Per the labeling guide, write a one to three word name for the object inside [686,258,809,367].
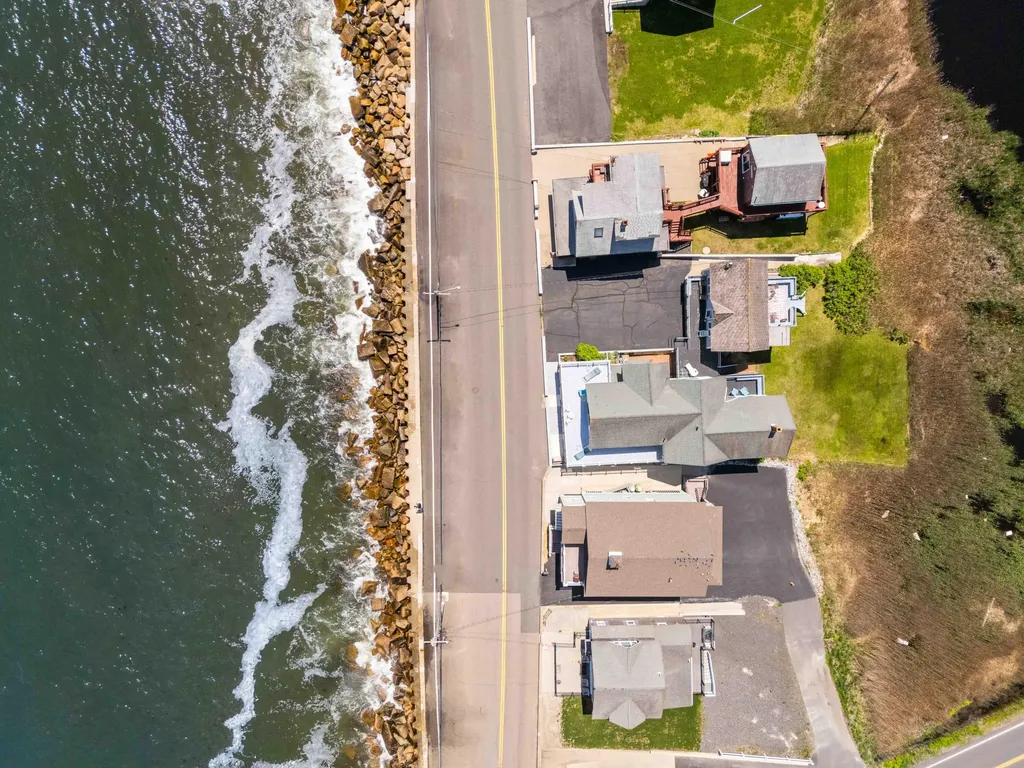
house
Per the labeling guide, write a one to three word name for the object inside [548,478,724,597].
house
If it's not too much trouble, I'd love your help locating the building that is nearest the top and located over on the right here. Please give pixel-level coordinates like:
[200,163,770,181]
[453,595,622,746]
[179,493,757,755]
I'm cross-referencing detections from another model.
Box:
[605,0,650,39]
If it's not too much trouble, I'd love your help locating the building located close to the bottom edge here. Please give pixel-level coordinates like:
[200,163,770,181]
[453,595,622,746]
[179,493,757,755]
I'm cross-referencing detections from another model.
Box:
[579,612,717,730]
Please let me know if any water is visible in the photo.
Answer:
Yes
